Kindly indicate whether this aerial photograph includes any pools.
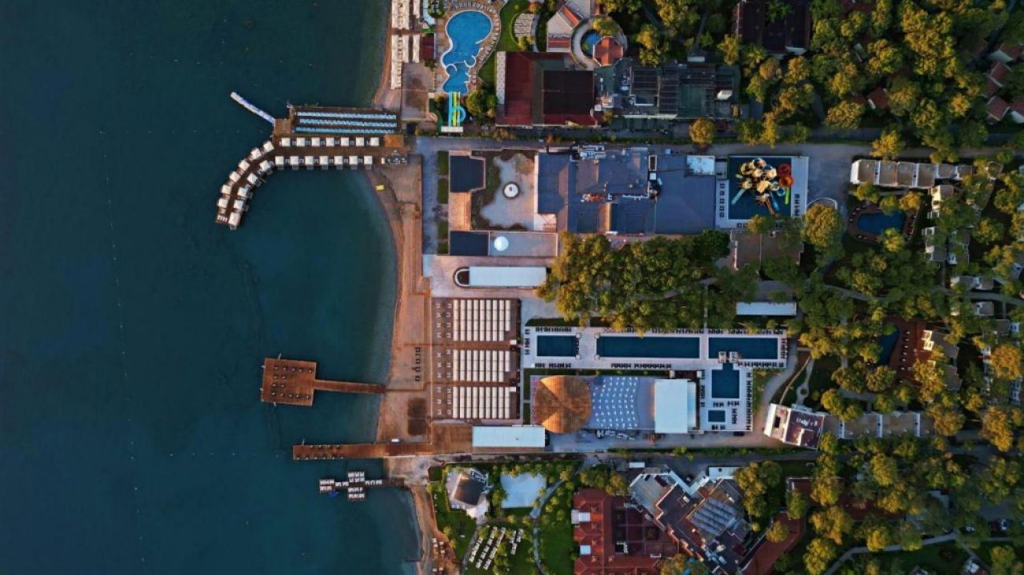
Yes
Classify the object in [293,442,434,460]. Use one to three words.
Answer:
pier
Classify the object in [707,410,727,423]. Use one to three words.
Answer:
swimming pool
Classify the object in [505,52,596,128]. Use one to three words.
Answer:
building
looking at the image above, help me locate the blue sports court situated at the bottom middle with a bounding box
[501,474,546,508]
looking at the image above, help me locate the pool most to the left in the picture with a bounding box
[440,9,493,93]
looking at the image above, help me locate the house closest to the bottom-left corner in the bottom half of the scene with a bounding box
[446,468,491,518]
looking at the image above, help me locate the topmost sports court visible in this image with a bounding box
[401,64,428,117]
